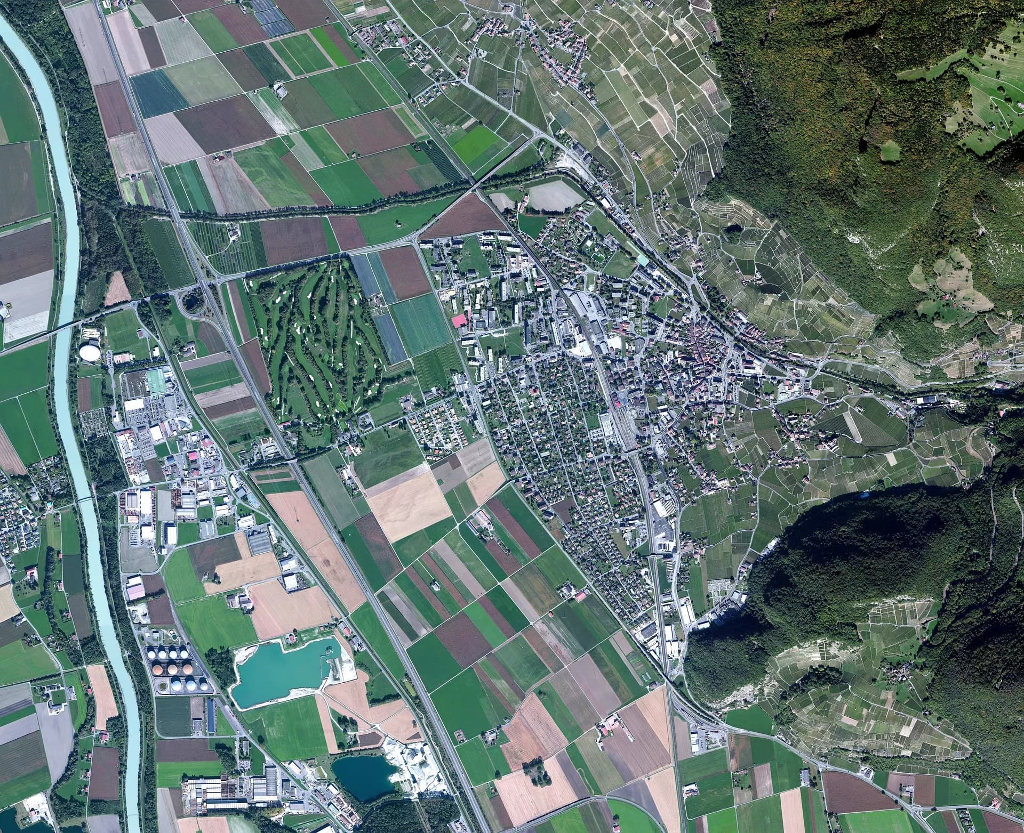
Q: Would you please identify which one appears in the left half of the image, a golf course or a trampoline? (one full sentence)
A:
The feature located in the left half of the image is a golf course.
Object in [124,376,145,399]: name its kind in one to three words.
building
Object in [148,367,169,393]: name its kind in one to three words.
building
